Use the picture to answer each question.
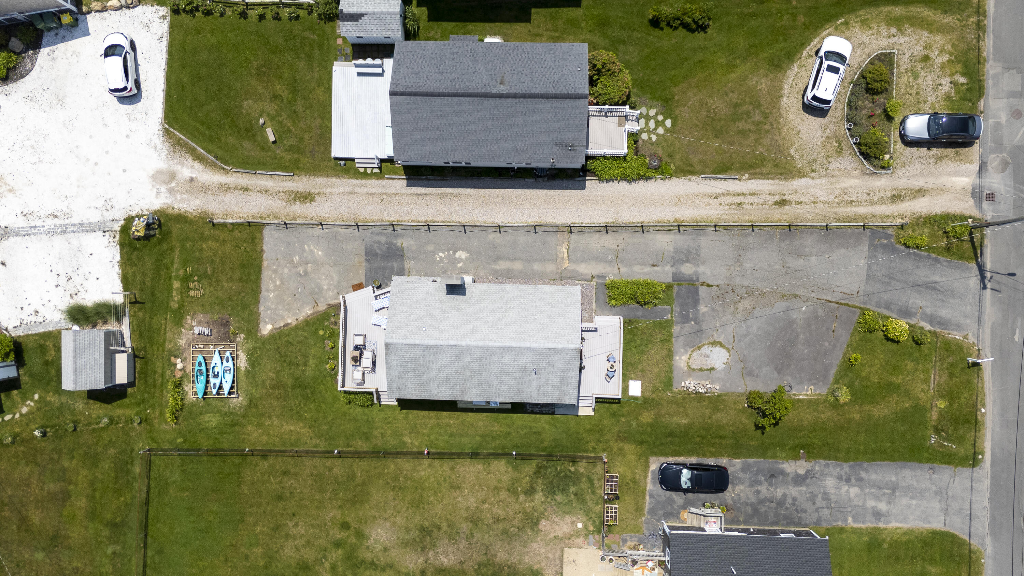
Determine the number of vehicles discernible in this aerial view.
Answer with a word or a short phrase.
4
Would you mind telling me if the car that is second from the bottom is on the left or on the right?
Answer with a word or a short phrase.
right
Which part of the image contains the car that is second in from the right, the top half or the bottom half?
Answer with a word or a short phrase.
top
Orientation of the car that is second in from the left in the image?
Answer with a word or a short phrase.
from left to right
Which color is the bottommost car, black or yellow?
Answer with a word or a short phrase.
black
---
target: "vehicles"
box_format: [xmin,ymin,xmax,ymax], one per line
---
[657,459,731,496]
[803,37,850,113]
[95,31,138,96]
[898,110,984,146]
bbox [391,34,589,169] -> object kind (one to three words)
house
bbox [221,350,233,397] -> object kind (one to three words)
boat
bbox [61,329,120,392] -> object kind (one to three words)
shed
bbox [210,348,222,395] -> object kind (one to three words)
boat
